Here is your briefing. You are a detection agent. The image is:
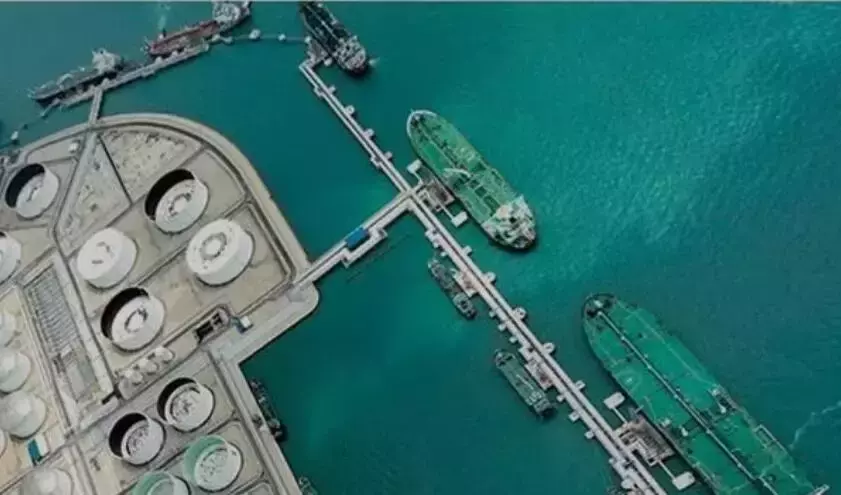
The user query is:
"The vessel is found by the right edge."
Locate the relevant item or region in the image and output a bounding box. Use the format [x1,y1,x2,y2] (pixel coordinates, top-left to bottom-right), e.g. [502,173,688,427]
[551,291,828,495]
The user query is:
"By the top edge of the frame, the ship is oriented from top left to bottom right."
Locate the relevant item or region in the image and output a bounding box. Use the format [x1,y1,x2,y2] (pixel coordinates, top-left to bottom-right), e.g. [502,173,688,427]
[289,0,375,80]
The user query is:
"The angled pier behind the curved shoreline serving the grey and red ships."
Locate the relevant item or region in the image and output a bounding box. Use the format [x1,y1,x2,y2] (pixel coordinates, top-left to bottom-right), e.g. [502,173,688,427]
[59,41,209,111]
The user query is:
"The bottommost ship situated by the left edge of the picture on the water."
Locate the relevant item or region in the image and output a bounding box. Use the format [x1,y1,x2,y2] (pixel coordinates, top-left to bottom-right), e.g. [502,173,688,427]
[23,49,131,106]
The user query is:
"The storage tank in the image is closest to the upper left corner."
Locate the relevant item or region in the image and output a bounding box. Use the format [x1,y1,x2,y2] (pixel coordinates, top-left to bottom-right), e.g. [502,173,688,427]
[5,163,62,220]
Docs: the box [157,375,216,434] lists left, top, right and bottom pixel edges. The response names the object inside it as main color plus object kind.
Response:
white storage tank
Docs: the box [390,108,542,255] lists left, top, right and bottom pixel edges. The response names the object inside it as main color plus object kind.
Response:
green ship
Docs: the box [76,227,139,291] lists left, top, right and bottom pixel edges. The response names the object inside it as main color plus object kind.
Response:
white storage tank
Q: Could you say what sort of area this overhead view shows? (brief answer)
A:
industrial area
